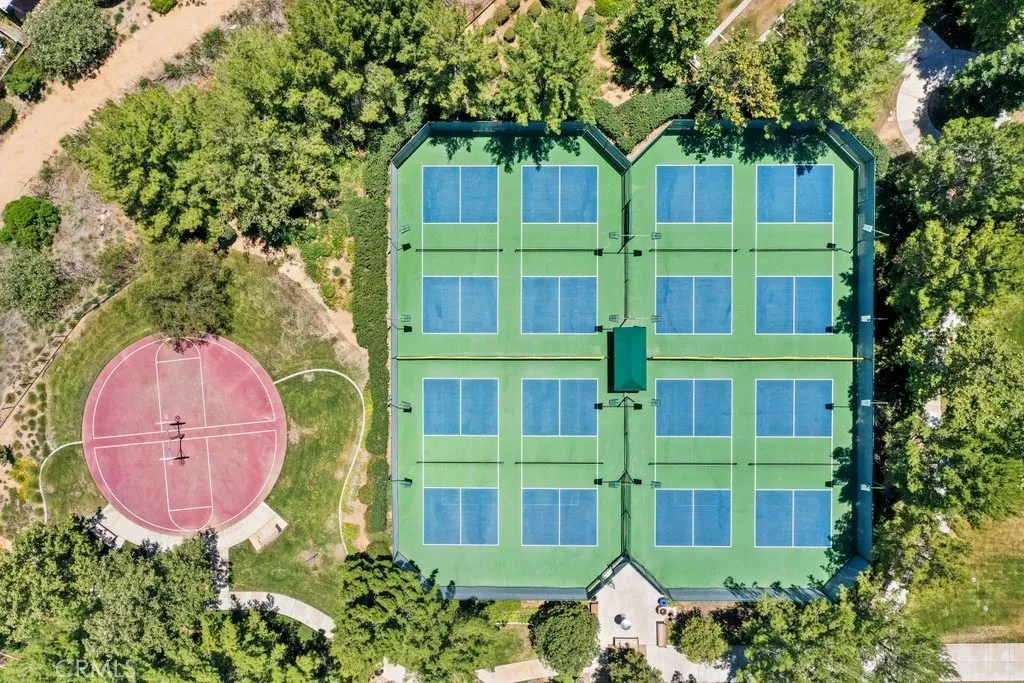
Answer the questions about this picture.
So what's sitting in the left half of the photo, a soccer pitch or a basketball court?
basketball court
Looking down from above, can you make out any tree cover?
Yes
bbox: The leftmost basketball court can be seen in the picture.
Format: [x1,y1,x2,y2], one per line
[83,334,286,537]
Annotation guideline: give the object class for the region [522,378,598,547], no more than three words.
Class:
sports court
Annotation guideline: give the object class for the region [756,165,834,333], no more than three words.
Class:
sports court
